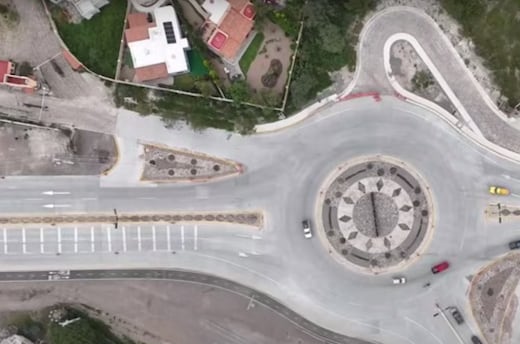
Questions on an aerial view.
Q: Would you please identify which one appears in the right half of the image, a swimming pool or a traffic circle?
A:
traffic circle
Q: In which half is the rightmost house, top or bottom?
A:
top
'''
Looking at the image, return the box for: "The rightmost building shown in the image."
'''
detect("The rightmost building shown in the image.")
[202,0,259,81]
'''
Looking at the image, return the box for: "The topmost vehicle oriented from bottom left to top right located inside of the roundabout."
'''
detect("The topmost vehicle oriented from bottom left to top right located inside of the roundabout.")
[429,260,450,275]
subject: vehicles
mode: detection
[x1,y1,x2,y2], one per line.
[302,220,312,239]
[451,308,464,325]
[471,334,483,344]
[429,260,450,275]
[391,278,407,285]
[488,186,509,195]
[508,239,520,249]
